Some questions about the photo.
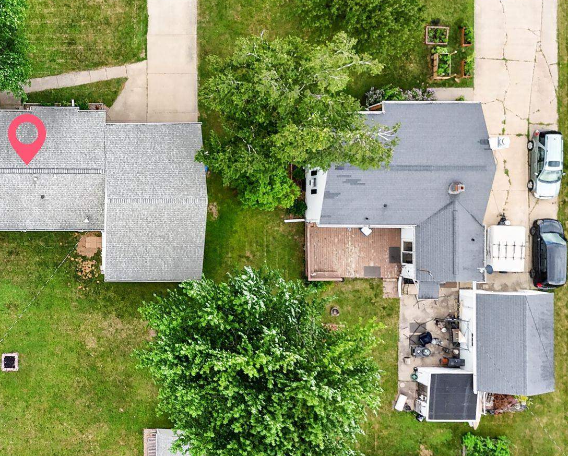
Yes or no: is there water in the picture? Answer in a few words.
No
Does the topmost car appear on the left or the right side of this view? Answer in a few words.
right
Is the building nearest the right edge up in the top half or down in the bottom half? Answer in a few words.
bottom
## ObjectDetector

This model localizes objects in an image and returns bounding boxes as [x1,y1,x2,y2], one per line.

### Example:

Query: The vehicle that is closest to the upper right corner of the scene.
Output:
[523,133,563,198]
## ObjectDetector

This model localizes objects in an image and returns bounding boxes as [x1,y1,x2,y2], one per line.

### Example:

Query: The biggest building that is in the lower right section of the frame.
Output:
[458,282,553,398]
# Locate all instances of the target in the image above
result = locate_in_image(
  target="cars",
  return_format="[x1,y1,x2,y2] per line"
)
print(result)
[523,133,563,198]
[525,220,567,288]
